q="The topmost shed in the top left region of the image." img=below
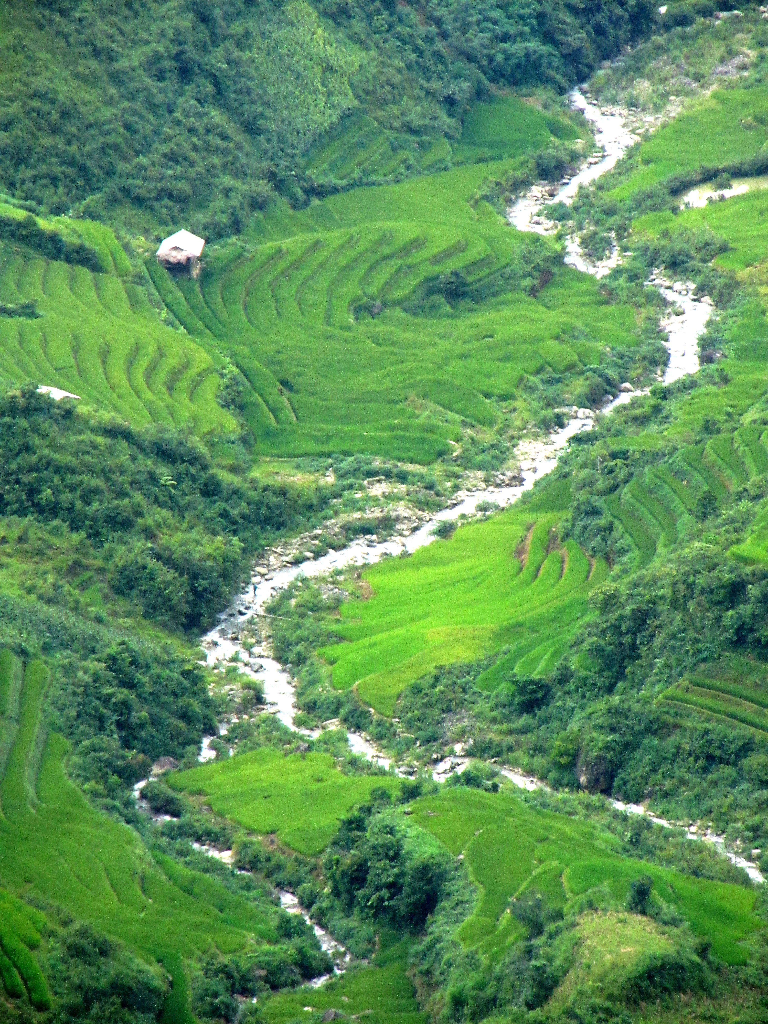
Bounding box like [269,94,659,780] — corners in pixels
[156,237,206,283]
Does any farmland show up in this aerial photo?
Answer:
Yes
